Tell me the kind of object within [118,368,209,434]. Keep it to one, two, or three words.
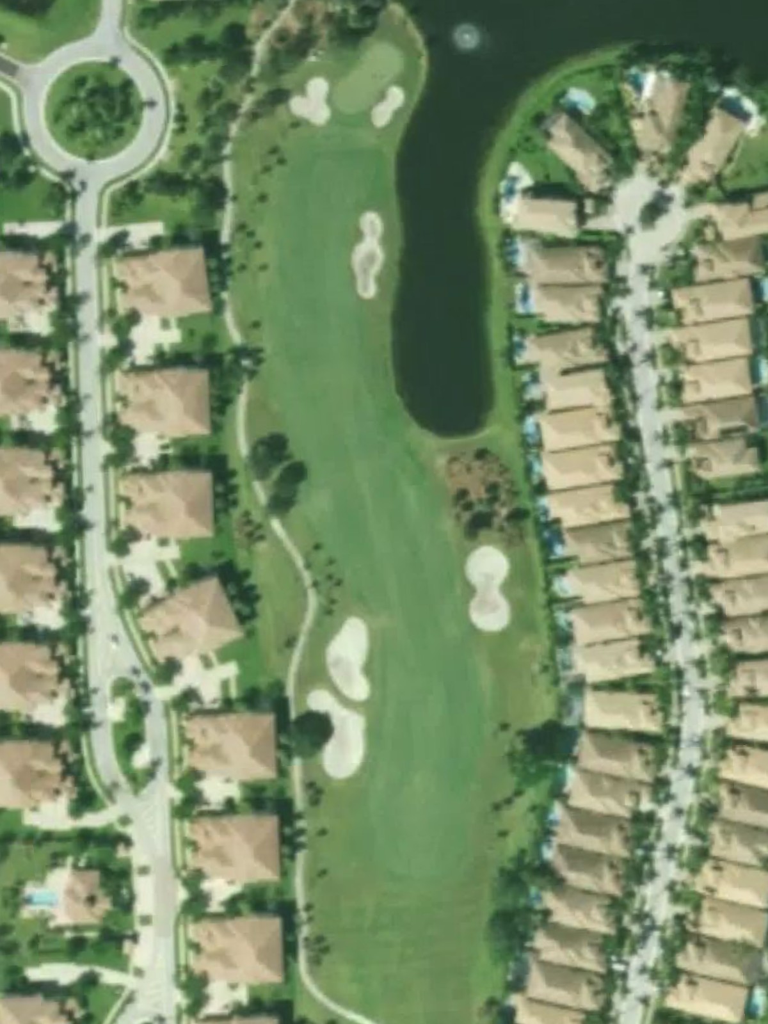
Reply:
house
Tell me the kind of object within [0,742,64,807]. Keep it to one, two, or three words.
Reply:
house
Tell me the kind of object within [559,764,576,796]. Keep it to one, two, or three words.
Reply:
swimming pool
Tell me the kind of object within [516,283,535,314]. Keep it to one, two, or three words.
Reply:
swimming pool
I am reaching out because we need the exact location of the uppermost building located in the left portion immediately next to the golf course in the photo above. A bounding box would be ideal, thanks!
[121,246,209,312]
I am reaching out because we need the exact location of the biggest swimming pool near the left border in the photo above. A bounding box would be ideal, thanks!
[23,868,66,927]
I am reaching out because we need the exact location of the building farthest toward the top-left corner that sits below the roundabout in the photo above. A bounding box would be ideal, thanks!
[0,252,49,317]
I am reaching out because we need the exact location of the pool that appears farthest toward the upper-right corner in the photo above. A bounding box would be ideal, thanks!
[719,88,763,135]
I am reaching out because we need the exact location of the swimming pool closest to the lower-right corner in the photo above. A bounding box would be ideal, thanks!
[748,986,768,1023]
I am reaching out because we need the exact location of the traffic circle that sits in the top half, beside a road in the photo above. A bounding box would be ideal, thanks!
[22,0,163,194]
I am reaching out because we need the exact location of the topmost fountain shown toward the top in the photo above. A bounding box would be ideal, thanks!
[451,21,482,53]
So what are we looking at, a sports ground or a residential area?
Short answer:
residential area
